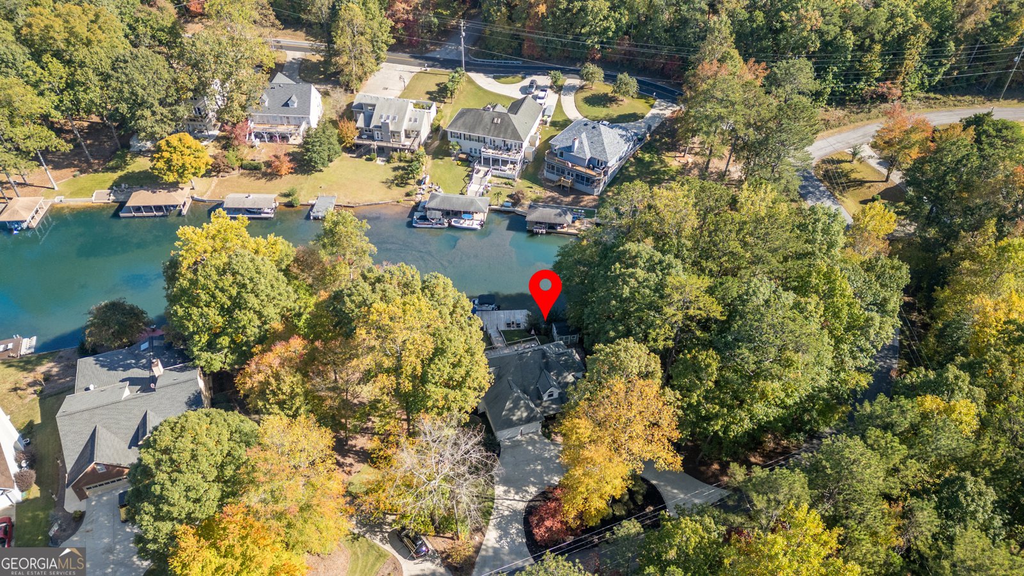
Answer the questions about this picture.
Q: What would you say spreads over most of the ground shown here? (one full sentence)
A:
For the most part, this view shows trees.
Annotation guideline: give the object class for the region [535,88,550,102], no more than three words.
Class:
vehicle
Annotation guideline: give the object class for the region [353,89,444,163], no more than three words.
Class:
house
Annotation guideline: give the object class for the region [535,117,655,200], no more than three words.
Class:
house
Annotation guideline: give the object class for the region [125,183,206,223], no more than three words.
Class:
building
